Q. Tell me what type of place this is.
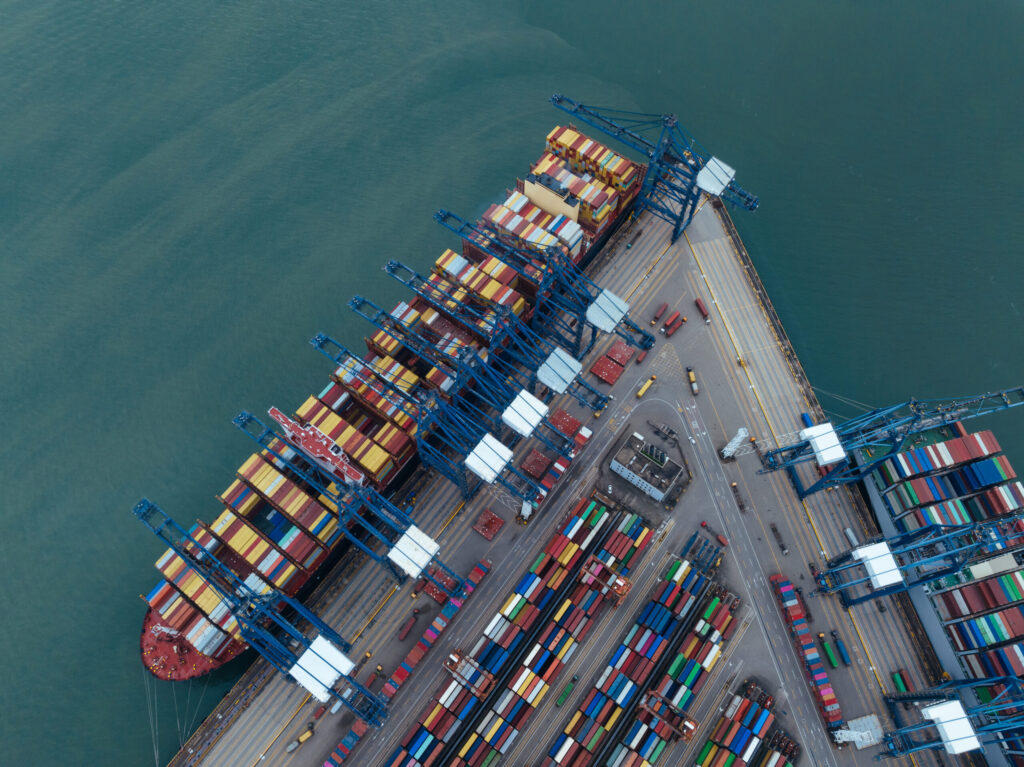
port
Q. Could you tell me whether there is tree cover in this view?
No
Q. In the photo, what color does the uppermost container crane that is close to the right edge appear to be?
blue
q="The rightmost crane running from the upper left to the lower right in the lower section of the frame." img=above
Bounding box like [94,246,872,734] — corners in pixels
[632,686,699,746]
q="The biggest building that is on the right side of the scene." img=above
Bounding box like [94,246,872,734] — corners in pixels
[610,429,684,501]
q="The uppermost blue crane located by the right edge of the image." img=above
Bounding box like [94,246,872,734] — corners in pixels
[763,387,1024,503]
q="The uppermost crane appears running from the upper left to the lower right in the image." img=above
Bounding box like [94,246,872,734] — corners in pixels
[547,92,759,243]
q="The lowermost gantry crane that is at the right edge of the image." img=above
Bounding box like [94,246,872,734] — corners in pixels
[881,670,1024,757]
